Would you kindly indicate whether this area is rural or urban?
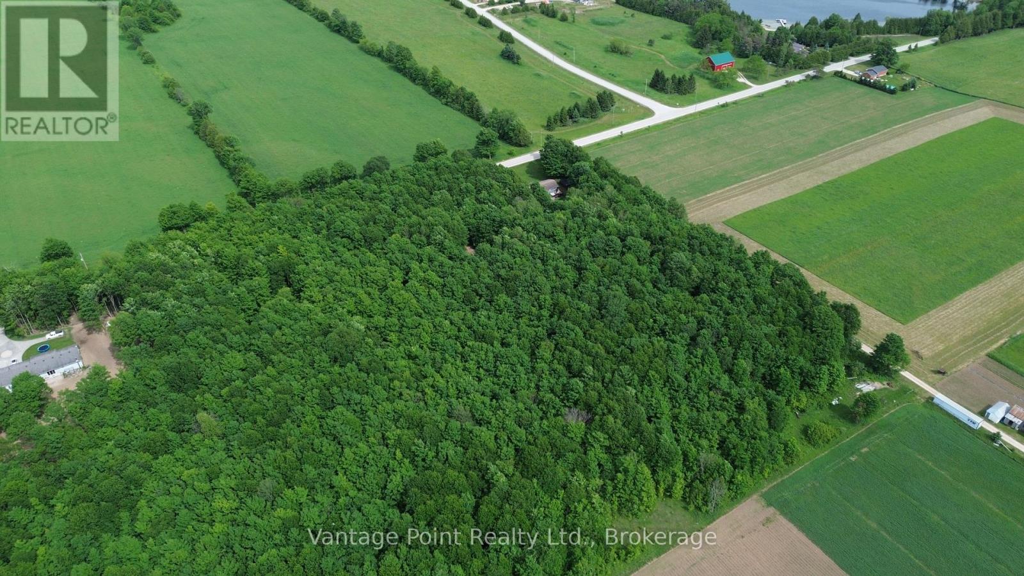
rural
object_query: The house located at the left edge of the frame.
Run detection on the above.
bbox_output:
[0,342,85,389]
